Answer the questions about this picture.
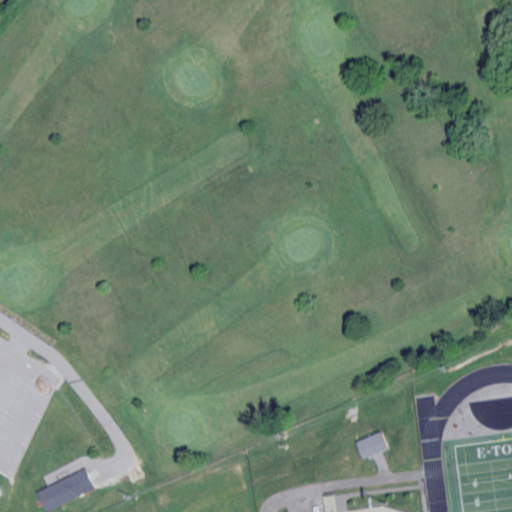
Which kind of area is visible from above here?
golf course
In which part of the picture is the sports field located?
bottom right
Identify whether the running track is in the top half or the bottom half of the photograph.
bottom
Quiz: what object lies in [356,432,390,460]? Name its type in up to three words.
house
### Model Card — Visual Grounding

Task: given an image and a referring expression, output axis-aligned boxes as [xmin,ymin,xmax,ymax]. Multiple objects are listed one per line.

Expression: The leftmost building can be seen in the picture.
[36,468,95,512]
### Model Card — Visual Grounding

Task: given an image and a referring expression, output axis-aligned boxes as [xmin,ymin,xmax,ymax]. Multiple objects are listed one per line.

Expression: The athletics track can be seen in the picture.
[416,364,512,512]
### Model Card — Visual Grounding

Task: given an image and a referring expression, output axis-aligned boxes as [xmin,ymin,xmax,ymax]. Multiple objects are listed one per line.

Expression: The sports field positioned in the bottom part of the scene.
[442,436,512,512]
